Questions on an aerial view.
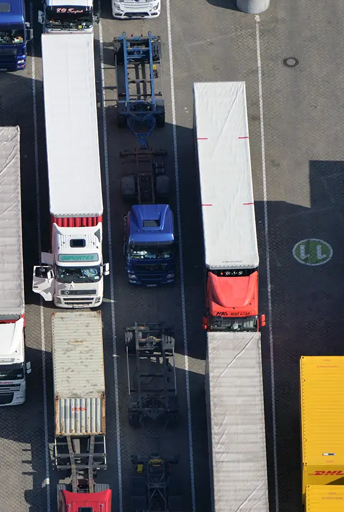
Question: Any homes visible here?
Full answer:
No, I can't see a single home in this photo.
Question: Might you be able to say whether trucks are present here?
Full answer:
Yes, you can see a truck in this photo.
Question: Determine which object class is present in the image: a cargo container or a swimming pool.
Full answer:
Visible in the photo is a cargo container.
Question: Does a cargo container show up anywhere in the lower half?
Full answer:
Yes, I can see a cargo container in the lower half.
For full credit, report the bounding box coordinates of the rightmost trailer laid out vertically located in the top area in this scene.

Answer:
[192,82,259,312]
